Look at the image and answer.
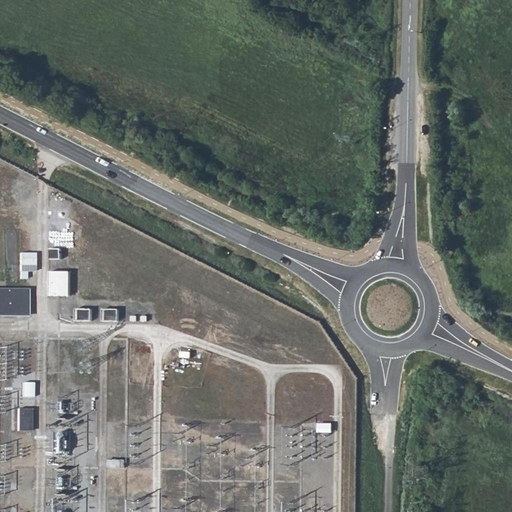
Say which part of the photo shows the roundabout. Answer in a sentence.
The roundabout is in the right part of the image.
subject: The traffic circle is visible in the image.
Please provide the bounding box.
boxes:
[284,183,512,386]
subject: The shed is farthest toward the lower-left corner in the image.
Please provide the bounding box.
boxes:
[17,408,35,431]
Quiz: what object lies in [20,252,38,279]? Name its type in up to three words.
house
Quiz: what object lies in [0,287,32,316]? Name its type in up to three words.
building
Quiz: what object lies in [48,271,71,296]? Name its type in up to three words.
building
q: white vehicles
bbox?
[95,156,109,166]
[372,393,378,406]
[468,338,480,347]
[374,250,384,261]
[36,126,48,136]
